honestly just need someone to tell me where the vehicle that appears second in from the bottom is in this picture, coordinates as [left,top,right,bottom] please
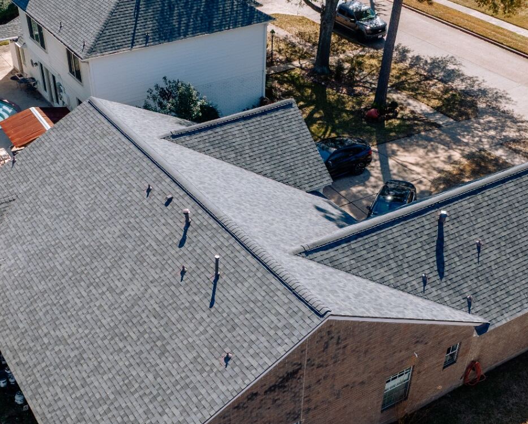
[314,136,377,184]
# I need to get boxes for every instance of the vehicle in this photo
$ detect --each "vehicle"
[349,174,417,226]
[314,136,377,184]
[335,0,384,41]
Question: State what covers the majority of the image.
buildings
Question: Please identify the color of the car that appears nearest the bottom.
black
